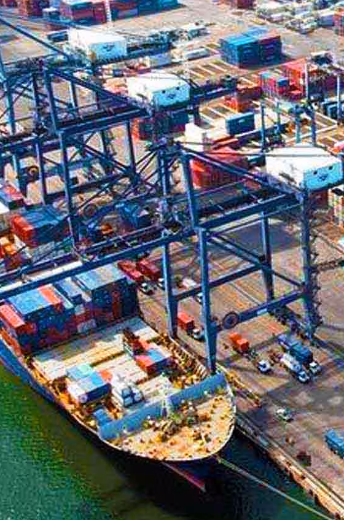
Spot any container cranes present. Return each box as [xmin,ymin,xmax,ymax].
[0,135,344,373]
[274,100,327,152]
[297,60,344,125]
[0,61,227,248]
[0,25,167,202]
